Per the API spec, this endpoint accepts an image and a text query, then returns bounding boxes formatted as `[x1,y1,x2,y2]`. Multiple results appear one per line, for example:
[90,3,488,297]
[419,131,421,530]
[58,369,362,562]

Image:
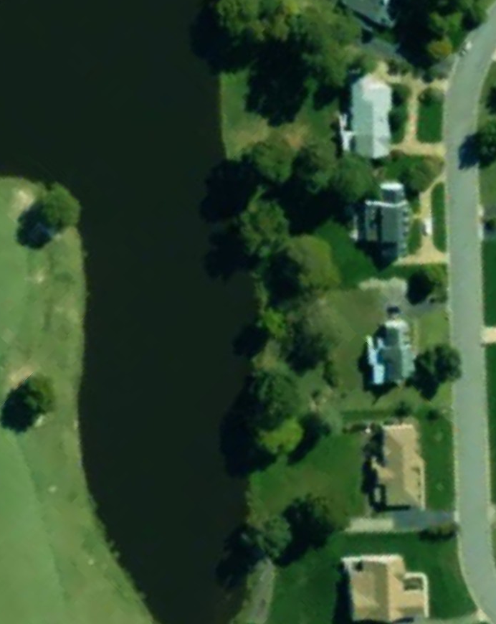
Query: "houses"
[369,319,415,385]
[337,0,399,34]
[337,73,394,158]
[345,556,430,624]
[353,180,410,259]
[371,421,431,510]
